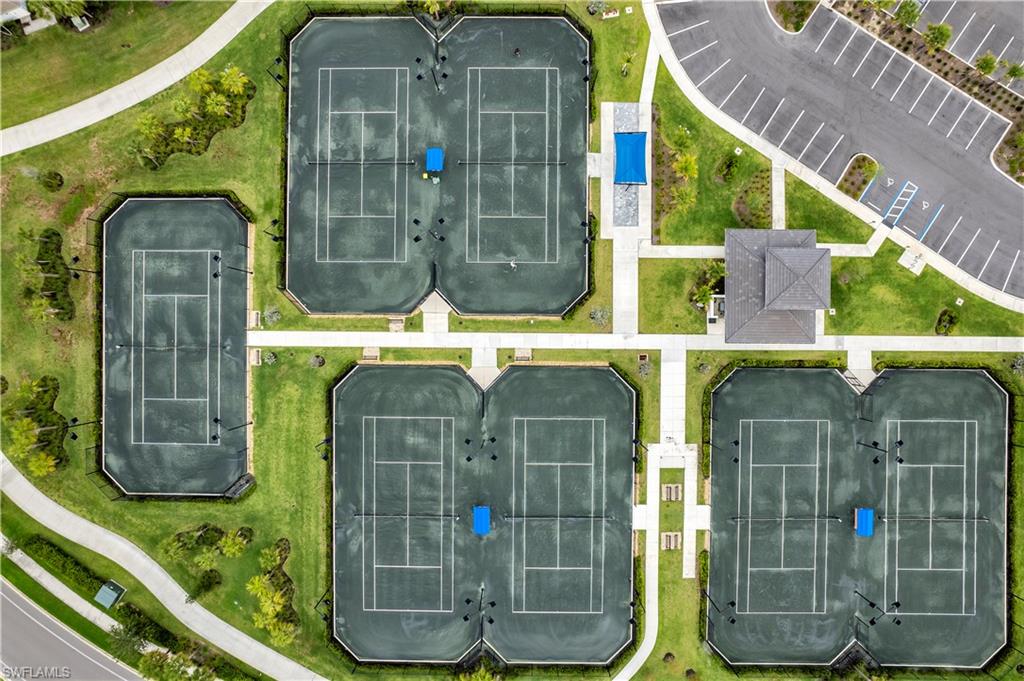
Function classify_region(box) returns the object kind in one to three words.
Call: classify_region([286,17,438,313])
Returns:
tennis court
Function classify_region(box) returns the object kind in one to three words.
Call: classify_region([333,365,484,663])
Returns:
tennis court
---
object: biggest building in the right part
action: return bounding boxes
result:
[721,228,831,344]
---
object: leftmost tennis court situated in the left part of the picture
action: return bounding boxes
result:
[103,198,249,495]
